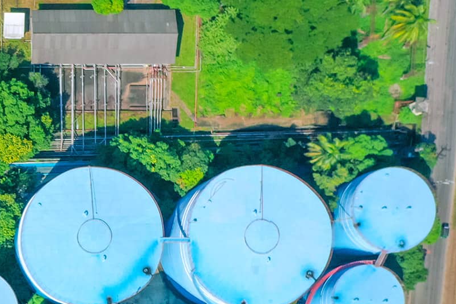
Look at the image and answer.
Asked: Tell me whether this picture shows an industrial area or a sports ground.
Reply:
industrial area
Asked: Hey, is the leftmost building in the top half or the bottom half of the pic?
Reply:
top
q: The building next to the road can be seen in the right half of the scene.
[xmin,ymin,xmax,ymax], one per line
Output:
[404,99,430,118]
